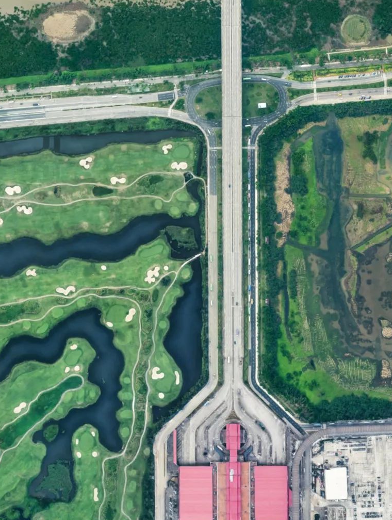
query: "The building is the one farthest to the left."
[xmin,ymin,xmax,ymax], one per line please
[179,466,212,520]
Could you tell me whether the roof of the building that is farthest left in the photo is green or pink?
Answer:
pink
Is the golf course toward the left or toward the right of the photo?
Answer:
left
